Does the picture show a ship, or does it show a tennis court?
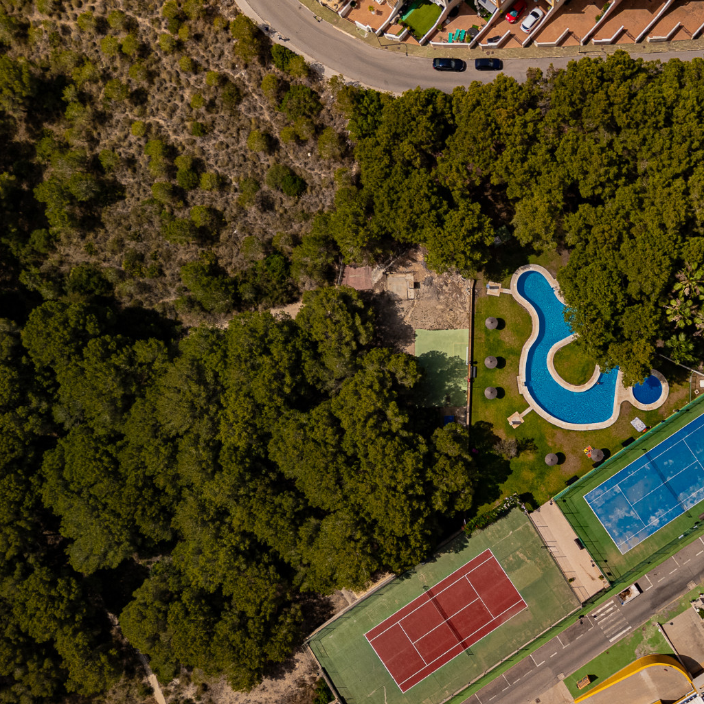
tennis court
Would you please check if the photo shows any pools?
Yes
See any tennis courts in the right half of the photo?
Yes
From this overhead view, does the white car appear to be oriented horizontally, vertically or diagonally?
diagonally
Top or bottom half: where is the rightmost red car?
top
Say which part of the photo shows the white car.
top right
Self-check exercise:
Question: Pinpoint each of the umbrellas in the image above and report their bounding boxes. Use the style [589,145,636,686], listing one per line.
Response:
[484,356,498,369]
[590,449,603,461]
[485,317,498,331]
[484,386,497,400]
[544,453,558,466]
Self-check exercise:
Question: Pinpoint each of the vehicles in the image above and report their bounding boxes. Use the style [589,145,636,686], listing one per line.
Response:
[503,0,527,20]
[432,55,464,71]
[519,4,544,31]
[474,54,501,70]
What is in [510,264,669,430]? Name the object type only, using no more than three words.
swimming pool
